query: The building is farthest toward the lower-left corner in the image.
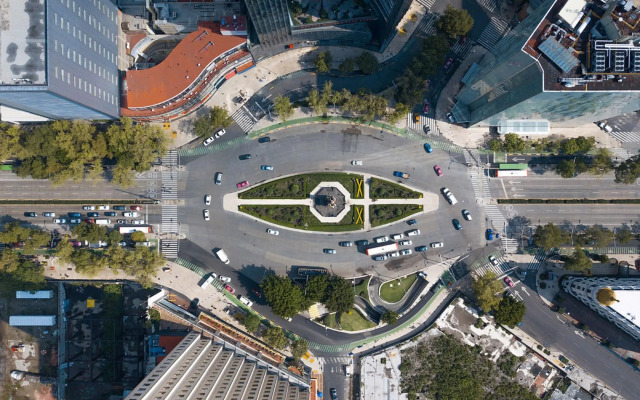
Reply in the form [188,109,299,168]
[9,314,58,326]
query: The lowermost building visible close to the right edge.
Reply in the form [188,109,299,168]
[561,276,640,344]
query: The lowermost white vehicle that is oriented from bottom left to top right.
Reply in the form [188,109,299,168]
[198,272,218,291]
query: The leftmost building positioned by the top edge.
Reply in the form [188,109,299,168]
[0,0,120,121]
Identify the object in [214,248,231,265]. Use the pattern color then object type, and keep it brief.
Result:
white vehicle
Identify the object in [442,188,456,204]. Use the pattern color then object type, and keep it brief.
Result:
white vehicle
